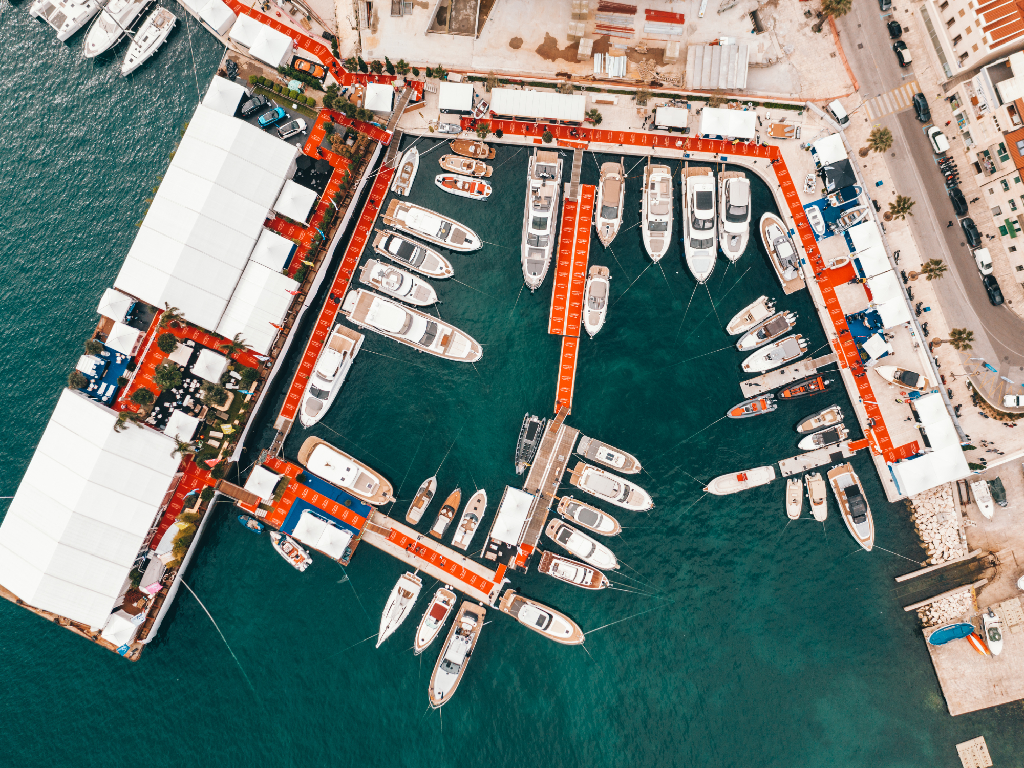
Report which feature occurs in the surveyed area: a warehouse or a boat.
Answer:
boat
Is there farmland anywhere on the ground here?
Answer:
No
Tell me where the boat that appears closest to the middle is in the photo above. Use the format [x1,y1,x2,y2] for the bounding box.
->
[515,417,544,474]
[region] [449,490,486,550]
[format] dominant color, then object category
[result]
white boat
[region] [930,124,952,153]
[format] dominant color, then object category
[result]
white car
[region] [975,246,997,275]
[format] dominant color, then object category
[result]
white vehicle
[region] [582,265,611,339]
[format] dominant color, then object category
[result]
white boat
